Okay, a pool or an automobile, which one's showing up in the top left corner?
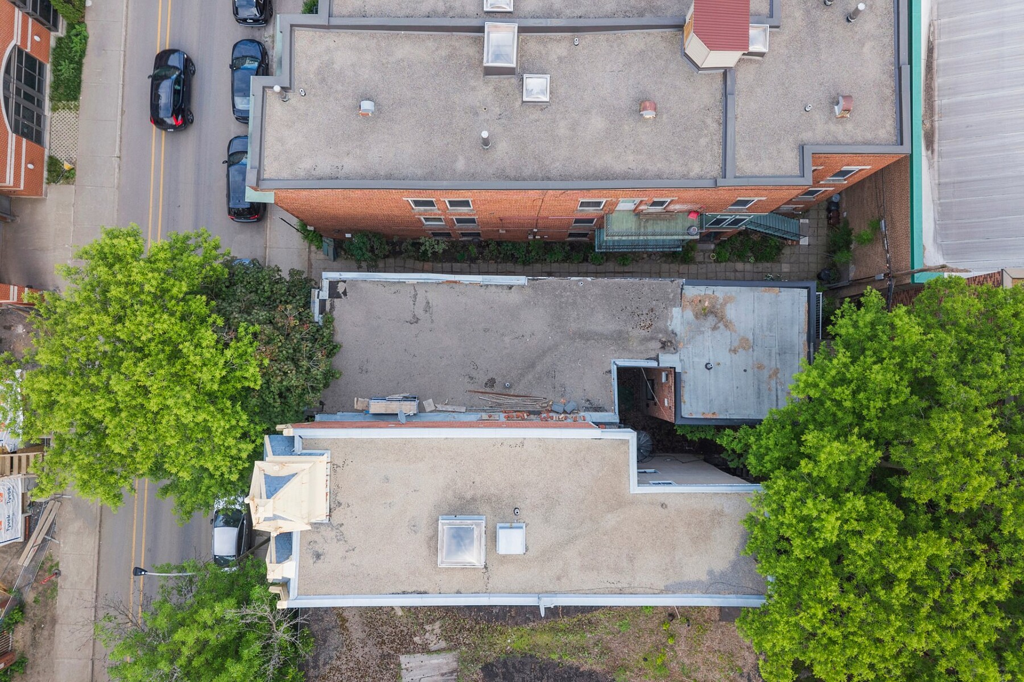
automobile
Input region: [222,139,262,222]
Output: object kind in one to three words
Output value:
car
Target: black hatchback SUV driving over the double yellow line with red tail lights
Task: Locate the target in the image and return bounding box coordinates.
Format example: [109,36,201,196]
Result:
[148,50,194,127]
